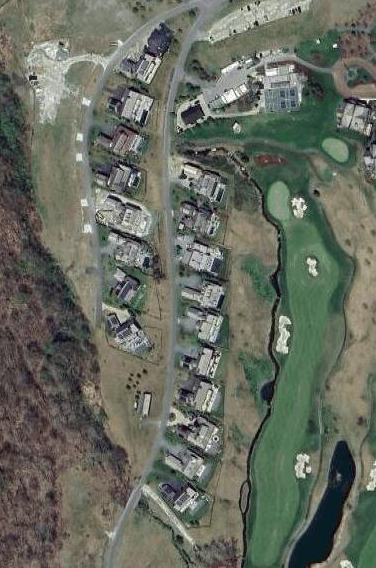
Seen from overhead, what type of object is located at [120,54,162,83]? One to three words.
house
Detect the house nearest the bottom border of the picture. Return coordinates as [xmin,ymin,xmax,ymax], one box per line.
[160,483,205,512]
